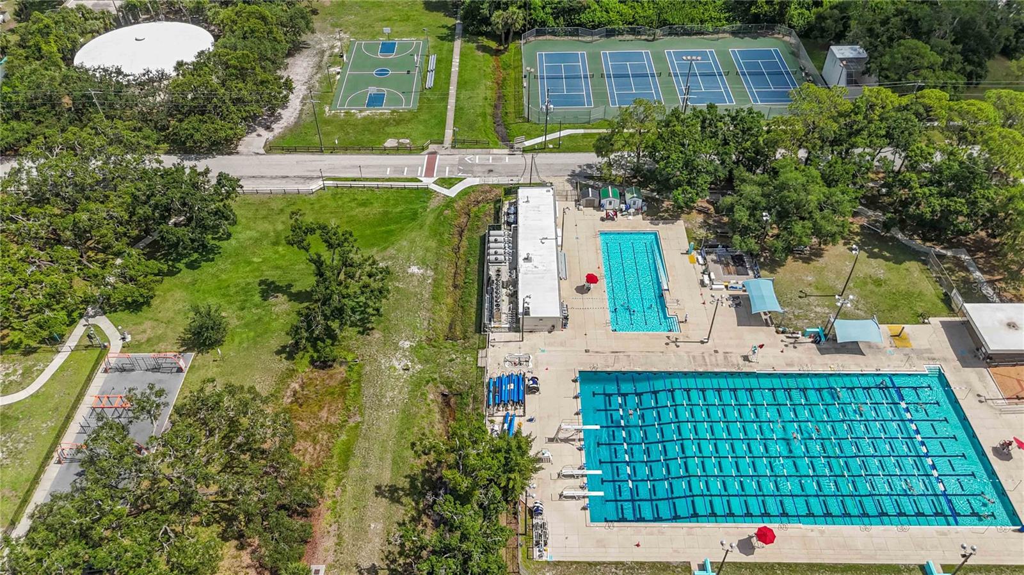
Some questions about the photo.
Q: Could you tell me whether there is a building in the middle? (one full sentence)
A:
Yes, I can see a building in the middle.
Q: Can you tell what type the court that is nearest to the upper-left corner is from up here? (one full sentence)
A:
I'd say the court that is nearest to the upper-left corner is a basketball court.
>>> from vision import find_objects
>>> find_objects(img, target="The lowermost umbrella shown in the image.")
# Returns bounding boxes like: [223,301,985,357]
[756,523,778,544]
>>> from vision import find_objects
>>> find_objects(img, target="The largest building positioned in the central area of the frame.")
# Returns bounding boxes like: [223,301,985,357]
[518,186,562,330]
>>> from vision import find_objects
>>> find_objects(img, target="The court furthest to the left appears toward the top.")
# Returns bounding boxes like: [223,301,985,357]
[331,39,427,110]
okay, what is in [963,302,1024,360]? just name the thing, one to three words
building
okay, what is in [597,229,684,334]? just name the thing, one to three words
swimming pool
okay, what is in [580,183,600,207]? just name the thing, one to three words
shed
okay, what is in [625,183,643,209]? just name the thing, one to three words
shed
